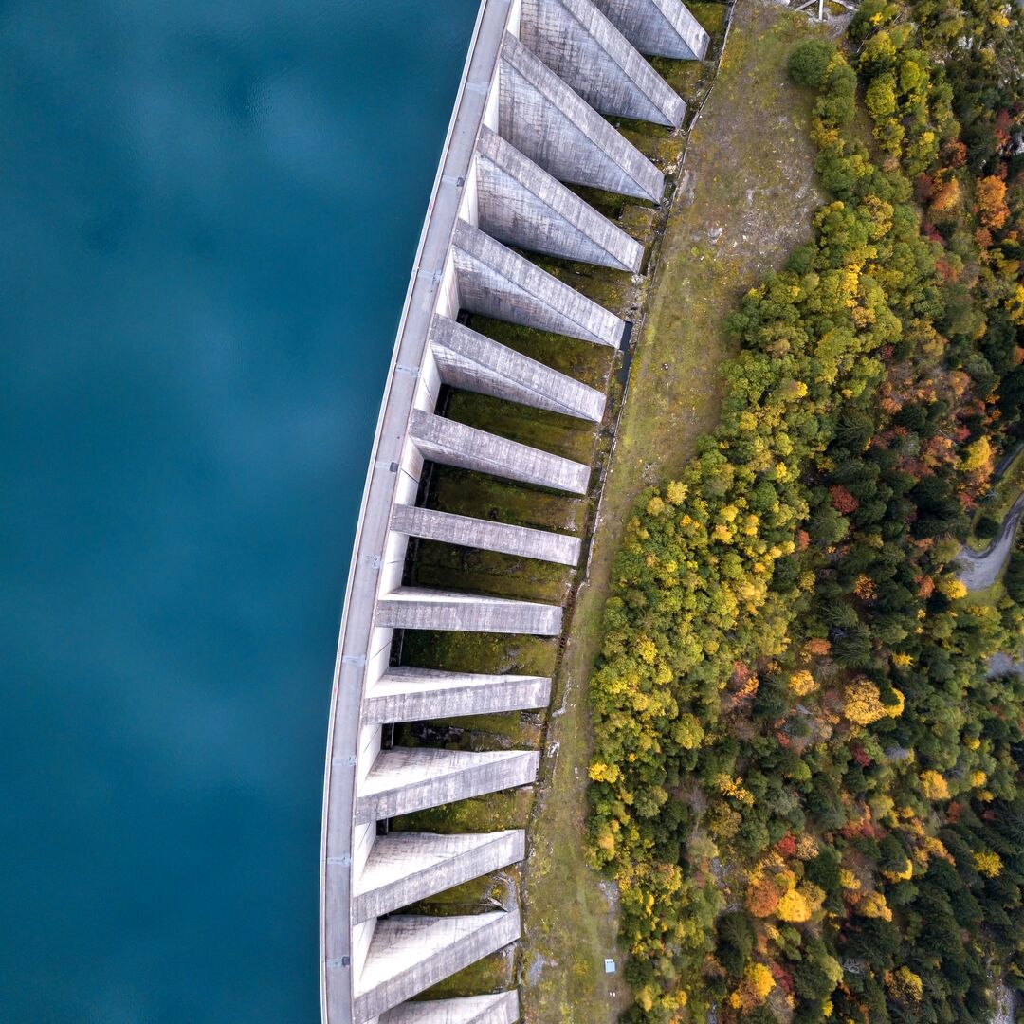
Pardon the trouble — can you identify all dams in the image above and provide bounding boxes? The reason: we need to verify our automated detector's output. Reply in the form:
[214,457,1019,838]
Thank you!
[320,0,712,1024]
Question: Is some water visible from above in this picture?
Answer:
Yes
